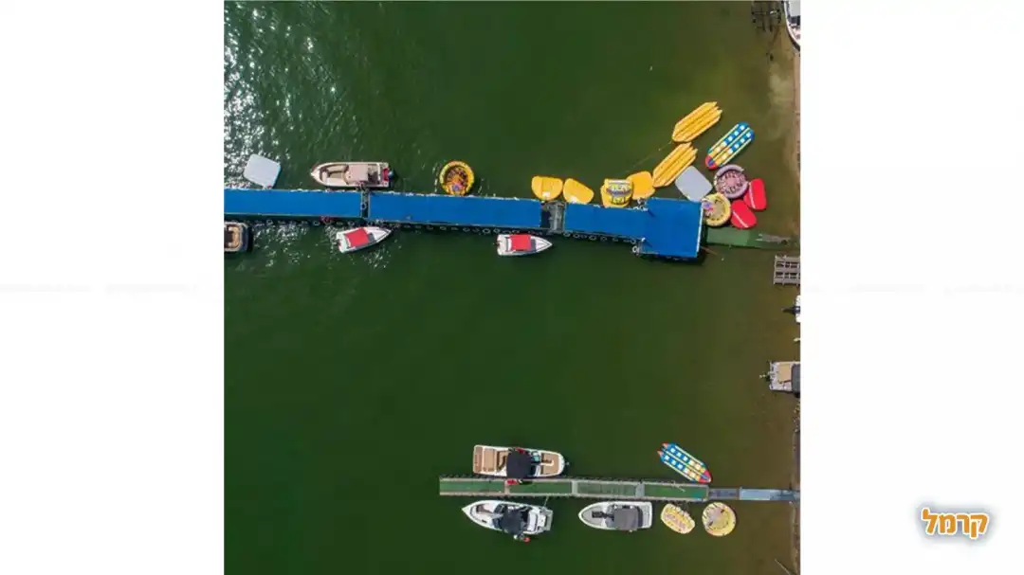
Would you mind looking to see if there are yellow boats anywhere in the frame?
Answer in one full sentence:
Yes, you can see a yellow boat in this photo.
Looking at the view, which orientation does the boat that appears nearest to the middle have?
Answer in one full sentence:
The boat that appears nearest to the middle is laid out from side to side.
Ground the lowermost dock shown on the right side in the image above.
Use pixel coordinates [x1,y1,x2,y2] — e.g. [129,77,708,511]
[440,478,802,506]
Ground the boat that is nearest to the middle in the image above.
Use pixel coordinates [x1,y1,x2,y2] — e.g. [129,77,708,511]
[490,234,553,256]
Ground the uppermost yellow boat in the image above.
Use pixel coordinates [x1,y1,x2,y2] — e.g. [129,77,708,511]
[670,97,726,144]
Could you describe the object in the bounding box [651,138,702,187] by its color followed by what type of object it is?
yellow boat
